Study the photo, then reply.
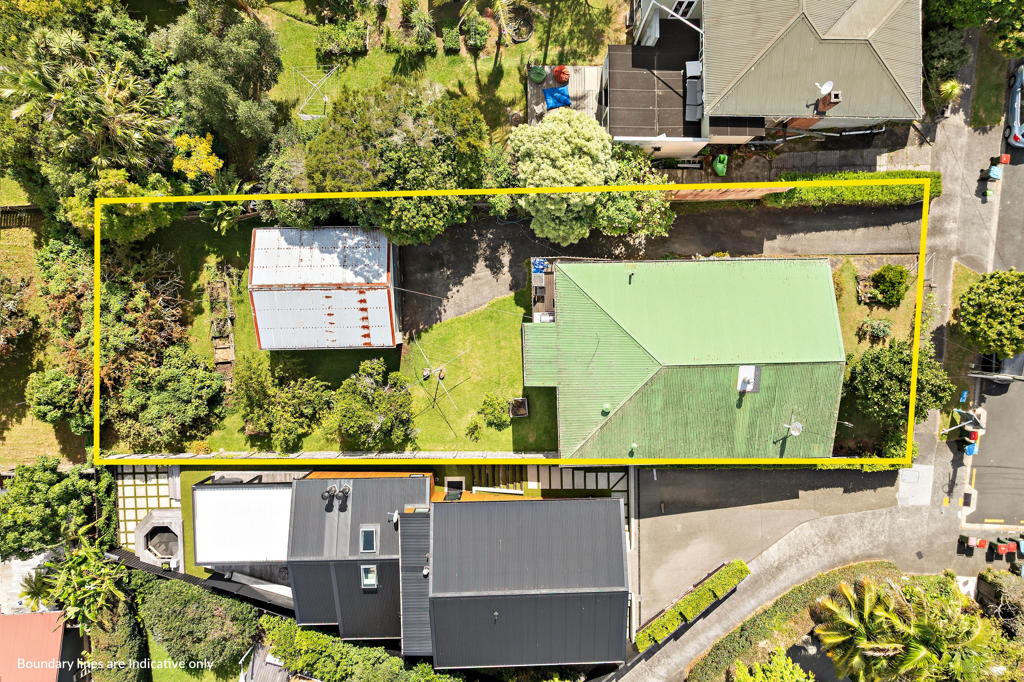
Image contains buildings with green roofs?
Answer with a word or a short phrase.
Yes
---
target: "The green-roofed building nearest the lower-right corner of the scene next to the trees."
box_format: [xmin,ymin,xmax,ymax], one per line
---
[523,255,849,470]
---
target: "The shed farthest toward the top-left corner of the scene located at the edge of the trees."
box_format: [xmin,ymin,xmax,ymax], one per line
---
[251,224,403,351]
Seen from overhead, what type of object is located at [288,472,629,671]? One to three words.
house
